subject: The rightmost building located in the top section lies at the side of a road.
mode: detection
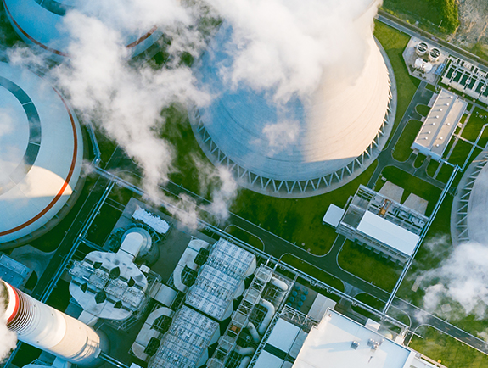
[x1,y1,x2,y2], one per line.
[410,88,469,163]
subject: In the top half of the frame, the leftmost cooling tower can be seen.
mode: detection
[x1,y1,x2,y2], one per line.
[184,0,403,201]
